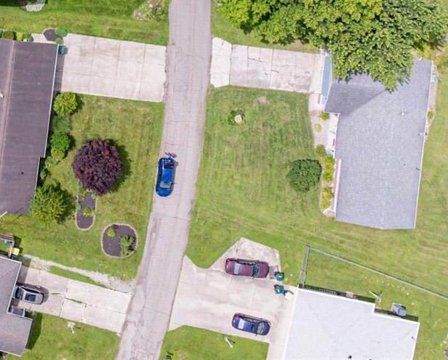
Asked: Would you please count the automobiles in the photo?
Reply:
4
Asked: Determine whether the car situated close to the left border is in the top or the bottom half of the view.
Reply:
bottom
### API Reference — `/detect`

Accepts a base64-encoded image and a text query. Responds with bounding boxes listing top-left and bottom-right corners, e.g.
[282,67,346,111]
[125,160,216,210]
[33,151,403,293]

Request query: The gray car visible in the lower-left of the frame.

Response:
[12,281,46,306]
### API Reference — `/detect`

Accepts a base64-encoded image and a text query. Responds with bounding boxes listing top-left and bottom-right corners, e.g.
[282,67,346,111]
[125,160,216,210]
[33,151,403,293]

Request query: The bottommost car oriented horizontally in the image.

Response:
[229,310,273,336]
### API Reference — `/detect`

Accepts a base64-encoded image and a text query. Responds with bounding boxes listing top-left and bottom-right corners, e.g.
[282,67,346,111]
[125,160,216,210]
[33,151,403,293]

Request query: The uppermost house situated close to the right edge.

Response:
[317,51,431,230]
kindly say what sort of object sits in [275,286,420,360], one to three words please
house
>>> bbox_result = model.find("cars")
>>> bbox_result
[12,281,46,306]
[225,257,267,279]
[229,310,273,336]
[155,158,175,196]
